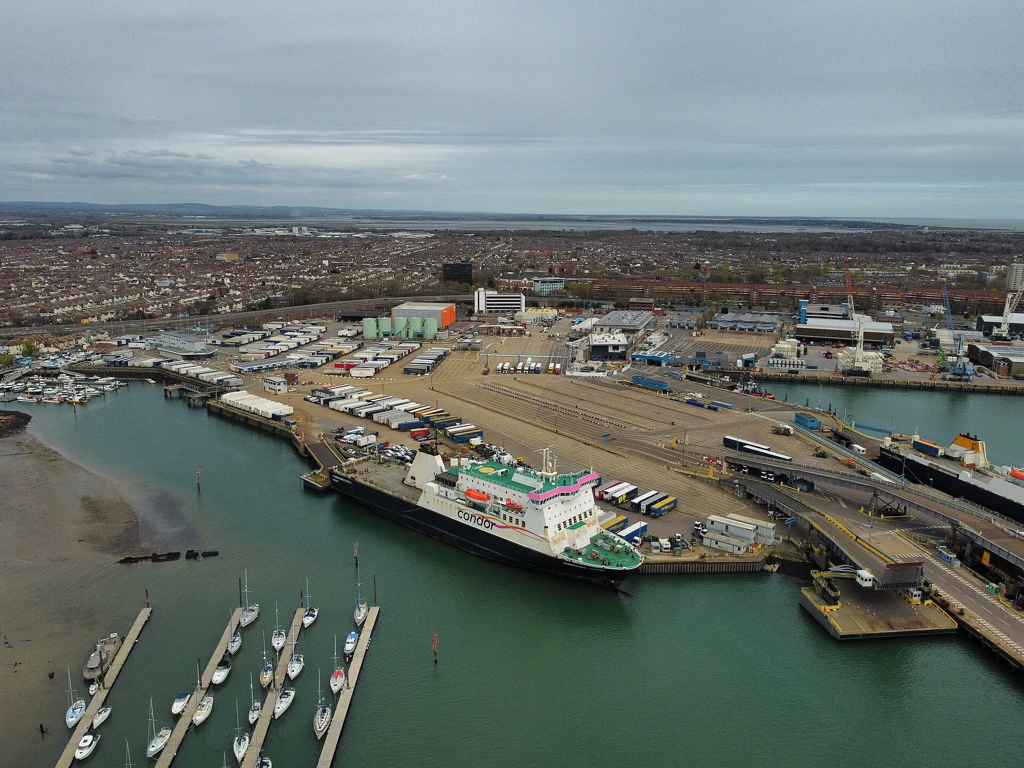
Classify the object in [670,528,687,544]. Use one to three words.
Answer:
vehicle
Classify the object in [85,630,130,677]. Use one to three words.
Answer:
boat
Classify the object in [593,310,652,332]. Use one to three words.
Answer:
building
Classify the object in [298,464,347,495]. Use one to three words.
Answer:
pier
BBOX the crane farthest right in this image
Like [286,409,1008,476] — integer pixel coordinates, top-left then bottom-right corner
[990,272,1024,342]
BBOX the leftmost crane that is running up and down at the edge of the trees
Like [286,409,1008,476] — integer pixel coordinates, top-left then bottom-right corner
[838,258,878,375]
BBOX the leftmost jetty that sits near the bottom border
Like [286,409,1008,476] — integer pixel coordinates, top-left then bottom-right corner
[59,608,152,768]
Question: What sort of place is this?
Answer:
port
